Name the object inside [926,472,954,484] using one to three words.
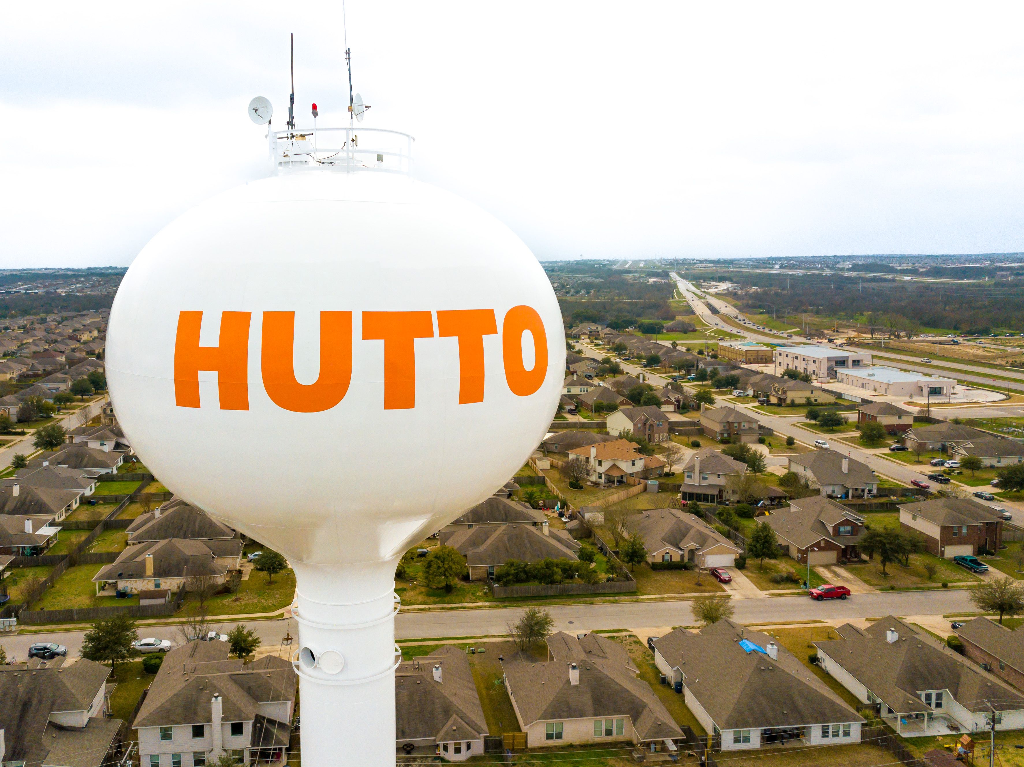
vehicle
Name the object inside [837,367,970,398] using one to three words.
building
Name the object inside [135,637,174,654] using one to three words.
car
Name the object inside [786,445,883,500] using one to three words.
house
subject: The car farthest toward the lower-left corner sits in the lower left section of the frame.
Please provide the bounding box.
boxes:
[24,640,69,660]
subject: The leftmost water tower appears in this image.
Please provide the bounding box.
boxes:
[105,127,565,767]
